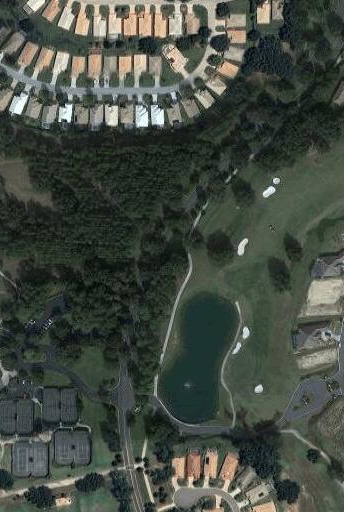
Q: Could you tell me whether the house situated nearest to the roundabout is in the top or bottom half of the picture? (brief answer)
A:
bottom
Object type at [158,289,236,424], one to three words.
pond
